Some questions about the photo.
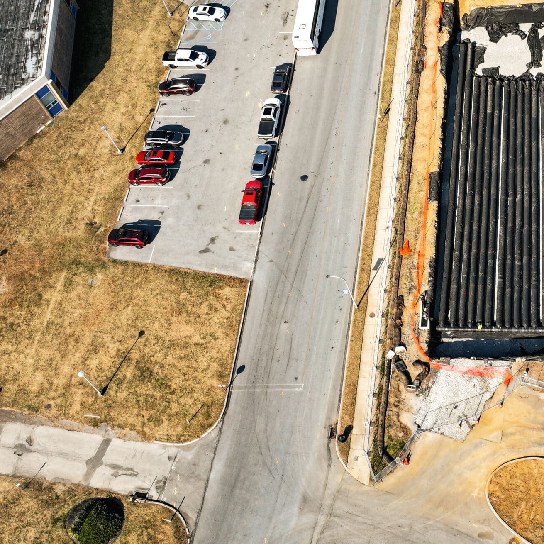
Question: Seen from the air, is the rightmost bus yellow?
No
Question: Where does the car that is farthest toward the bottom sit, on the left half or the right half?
left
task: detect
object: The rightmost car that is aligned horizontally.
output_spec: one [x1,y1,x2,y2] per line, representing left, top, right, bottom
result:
[187,5,229,22]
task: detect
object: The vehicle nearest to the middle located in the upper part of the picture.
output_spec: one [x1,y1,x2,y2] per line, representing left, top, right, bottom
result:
[237,179,265,225]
